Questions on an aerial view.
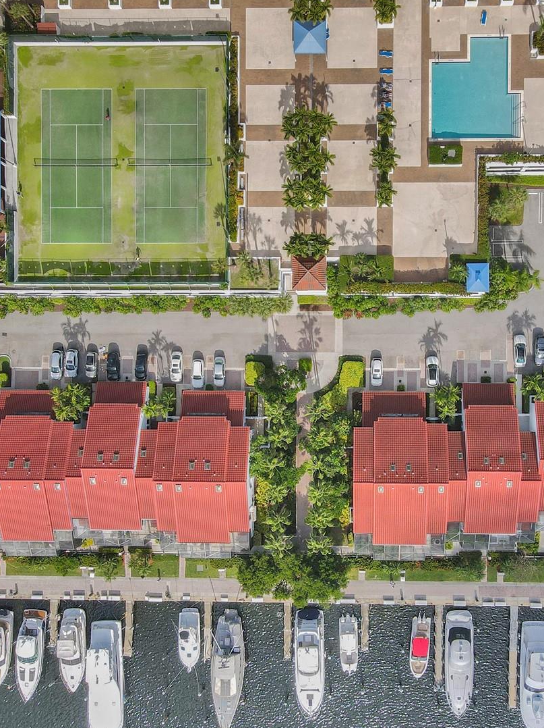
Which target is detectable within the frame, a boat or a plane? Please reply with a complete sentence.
It is a boat that can be seen here.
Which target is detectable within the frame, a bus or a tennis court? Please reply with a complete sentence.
The one in the frame is a tennis court.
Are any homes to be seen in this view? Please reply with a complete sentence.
Yes, the picture does show a home.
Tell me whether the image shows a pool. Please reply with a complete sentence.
Yes, looking at the shot, I can spot a pool.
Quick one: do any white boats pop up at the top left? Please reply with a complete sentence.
No, there is no white boat at the top left.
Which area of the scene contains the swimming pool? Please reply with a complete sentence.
The swimming pool is in the top right part of the image.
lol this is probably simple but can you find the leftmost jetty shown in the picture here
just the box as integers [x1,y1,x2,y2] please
[45,601,63,650]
